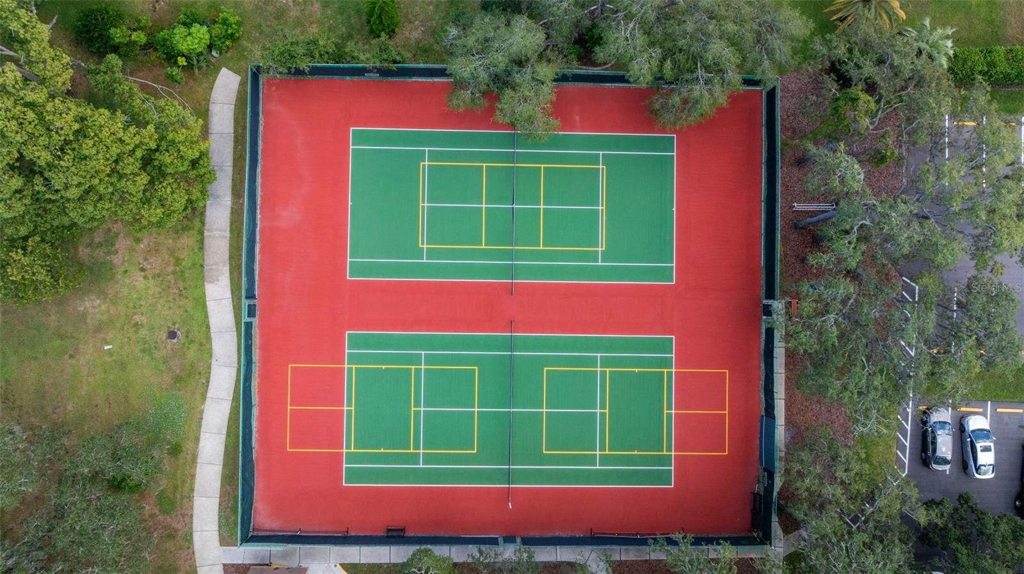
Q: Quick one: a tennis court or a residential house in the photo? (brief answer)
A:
tennis court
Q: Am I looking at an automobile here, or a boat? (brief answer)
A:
automobile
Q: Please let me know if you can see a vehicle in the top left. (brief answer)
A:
No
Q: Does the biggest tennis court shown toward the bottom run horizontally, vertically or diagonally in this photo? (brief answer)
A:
horizontally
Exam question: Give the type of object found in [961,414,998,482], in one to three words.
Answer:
car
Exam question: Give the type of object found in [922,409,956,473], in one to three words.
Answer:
car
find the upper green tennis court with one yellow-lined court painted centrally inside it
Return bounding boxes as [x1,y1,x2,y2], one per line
[347,127,676,284]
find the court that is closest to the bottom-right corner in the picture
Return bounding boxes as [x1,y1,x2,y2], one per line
[543,368,728,454]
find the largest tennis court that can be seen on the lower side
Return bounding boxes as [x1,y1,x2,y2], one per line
[343,332,675,488]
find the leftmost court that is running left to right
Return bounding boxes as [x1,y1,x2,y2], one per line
[287,365,477,452]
